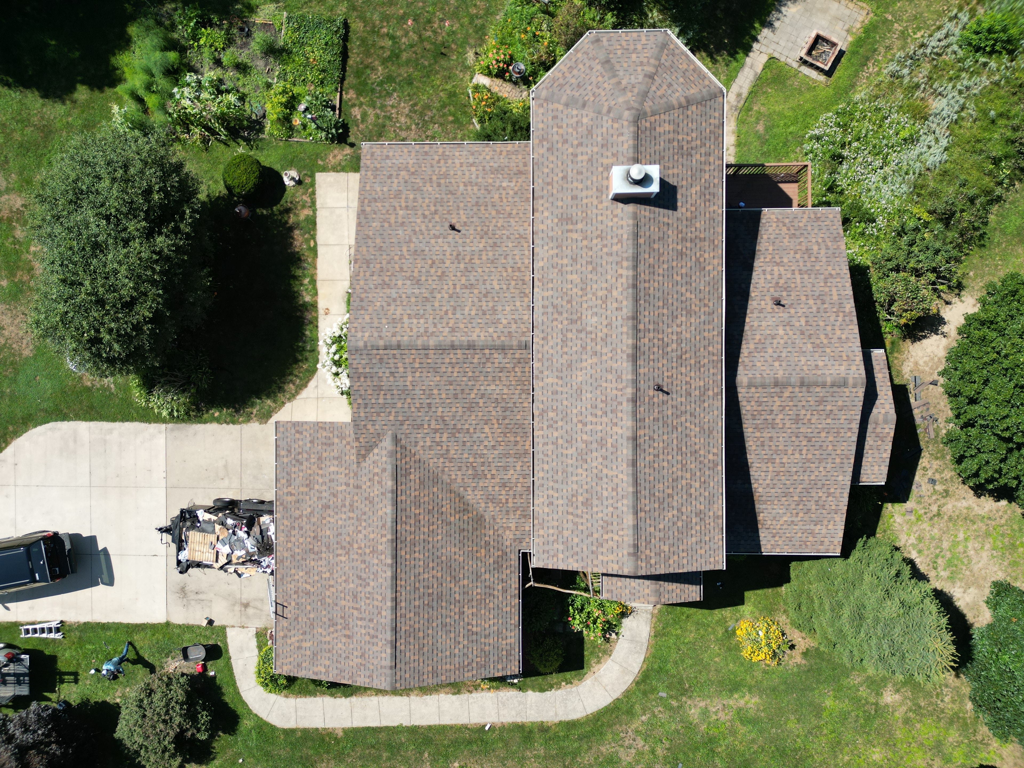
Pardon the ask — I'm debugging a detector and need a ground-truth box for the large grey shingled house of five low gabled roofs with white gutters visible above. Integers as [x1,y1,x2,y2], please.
[273,29,897,689]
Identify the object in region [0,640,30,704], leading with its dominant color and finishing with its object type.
gray truck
